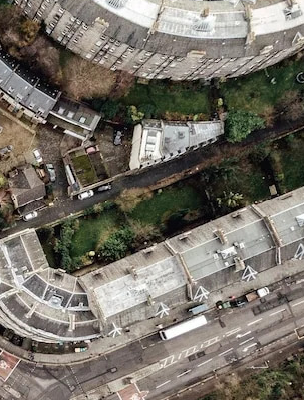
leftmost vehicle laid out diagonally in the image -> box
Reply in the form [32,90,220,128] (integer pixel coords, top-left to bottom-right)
[0,141,17,156]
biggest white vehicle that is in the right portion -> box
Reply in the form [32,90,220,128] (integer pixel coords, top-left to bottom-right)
[161,315,212,340]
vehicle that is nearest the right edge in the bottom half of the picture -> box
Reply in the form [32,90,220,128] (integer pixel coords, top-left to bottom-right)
[245,288,272,302]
